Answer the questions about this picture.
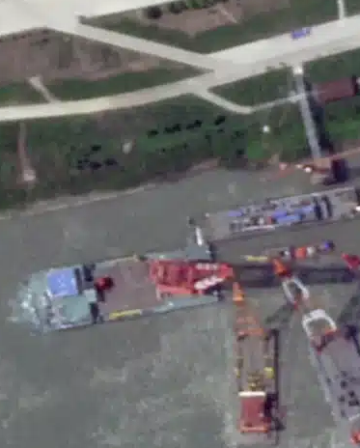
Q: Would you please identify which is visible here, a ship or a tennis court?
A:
ship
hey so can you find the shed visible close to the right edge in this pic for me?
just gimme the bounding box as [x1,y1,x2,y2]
[317,79,357,100]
